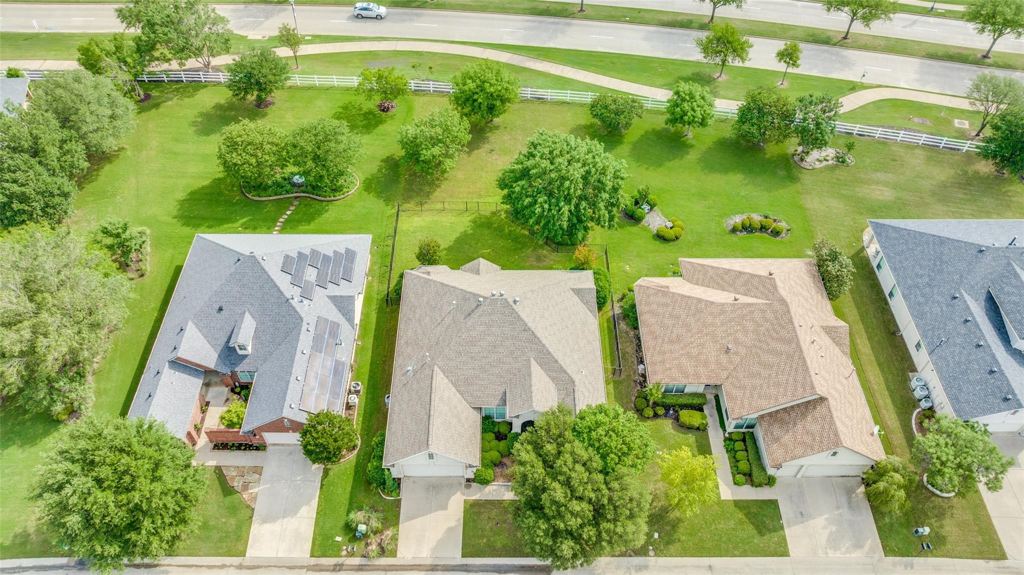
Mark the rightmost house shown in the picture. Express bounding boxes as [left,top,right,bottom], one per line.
[866,219,1024,434]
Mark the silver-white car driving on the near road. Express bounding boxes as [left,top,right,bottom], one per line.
[352,3,388,21]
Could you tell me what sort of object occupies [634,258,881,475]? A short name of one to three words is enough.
house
